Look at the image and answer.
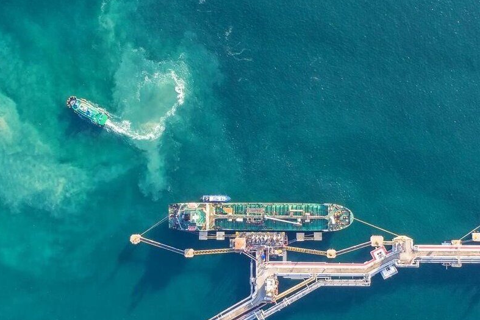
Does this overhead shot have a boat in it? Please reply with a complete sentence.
Yes, there's a boat here.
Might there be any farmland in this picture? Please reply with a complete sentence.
No, farmland can't be seen anywhere here.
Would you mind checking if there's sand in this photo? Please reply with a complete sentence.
No, sand can't be seen anywhere here.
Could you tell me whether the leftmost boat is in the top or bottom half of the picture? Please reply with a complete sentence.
You can find the leftmost boat in the top half.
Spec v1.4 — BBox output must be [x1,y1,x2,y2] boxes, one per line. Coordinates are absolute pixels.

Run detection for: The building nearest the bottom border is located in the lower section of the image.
[262,274,279,304]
